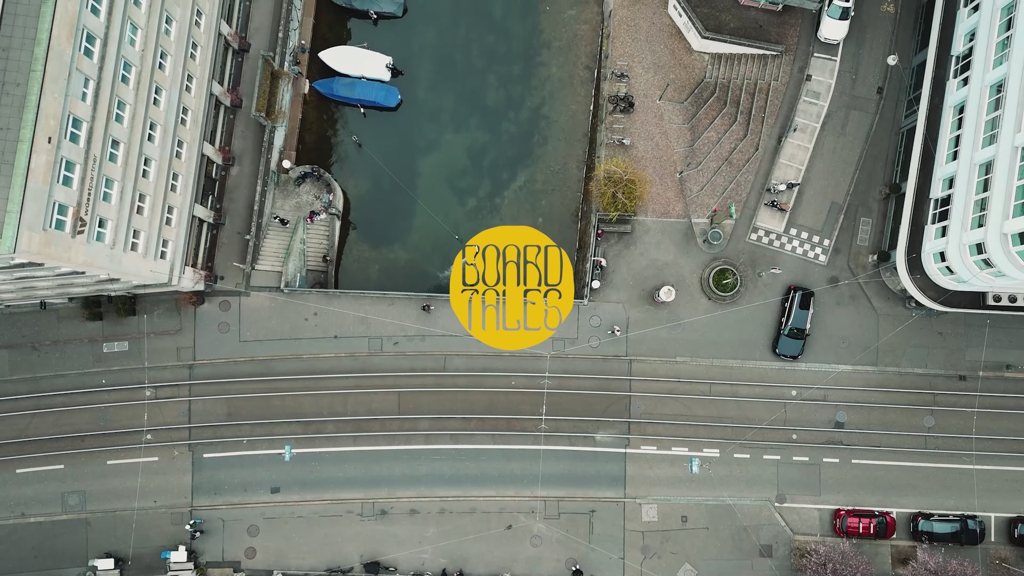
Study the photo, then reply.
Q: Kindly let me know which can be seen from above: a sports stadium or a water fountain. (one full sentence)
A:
The image shows a water fountain.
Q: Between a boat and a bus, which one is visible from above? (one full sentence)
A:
Looking from above, you can make out a boat.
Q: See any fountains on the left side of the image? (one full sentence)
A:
No, no fountain appears on the left side of the image.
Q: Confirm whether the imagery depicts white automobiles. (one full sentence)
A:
Yes, the photo shows a white automobile.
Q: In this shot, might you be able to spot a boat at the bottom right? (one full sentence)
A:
No, looking at the bottom right, there is no boat.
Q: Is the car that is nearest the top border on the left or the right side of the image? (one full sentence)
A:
You can find the car that is nearest the top border on the right side of the picture.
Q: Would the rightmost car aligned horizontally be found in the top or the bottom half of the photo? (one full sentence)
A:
The rightmost car aligned horizontally sits in the bottom half of the picture.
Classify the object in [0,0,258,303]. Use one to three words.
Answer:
building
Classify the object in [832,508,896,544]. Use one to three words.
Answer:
car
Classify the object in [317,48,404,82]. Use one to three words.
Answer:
boat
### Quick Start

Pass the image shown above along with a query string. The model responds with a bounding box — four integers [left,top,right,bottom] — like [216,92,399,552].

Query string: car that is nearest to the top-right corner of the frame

[815,0,854,45]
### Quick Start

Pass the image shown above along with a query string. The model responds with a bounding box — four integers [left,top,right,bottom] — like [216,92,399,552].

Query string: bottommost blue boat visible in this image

[311,80,403,121]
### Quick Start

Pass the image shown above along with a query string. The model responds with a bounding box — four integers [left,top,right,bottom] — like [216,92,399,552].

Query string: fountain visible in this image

[692,218,737,253]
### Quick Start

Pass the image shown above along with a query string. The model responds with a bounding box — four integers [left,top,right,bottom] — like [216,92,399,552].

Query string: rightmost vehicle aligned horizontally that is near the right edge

[908,510,986,548]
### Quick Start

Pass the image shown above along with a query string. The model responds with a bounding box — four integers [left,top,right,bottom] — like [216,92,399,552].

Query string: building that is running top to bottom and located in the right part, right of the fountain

[880,0,1024,317]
